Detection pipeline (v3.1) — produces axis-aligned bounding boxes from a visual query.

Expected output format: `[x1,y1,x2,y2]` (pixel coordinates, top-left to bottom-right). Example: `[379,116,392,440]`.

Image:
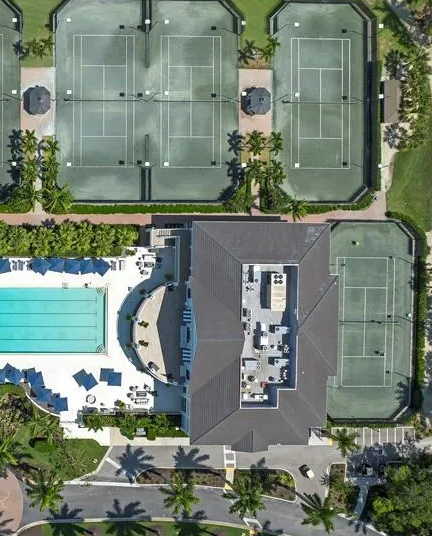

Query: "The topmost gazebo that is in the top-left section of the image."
[25,88,50,114]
